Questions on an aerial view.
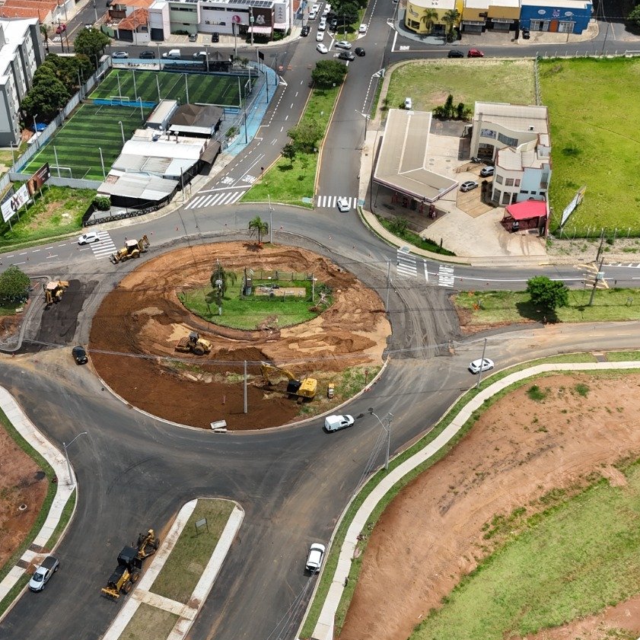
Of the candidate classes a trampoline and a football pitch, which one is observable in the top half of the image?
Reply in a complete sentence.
What appears in the top half of the image is a football pitch.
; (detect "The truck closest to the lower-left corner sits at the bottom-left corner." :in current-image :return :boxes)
[23,553,64,592]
